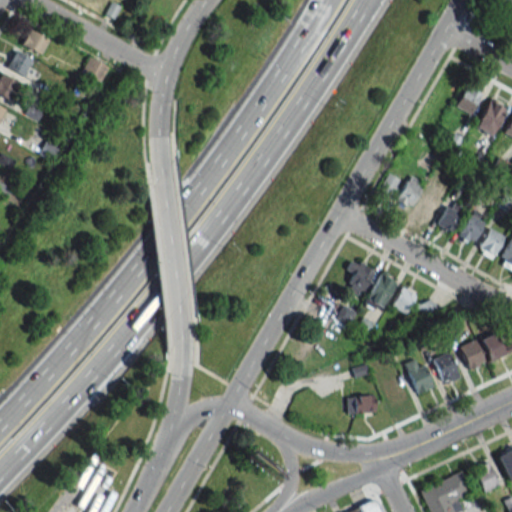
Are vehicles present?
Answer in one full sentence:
Yes, a vehicle appears in the view.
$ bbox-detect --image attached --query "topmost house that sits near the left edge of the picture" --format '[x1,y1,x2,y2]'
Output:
[24,30,50,54]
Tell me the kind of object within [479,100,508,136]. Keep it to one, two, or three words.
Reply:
house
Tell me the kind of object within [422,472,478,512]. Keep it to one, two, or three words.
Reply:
building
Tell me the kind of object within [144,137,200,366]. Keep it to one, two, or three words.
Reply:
overpass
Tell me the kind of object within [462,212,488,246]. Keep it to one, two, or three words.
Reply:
house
